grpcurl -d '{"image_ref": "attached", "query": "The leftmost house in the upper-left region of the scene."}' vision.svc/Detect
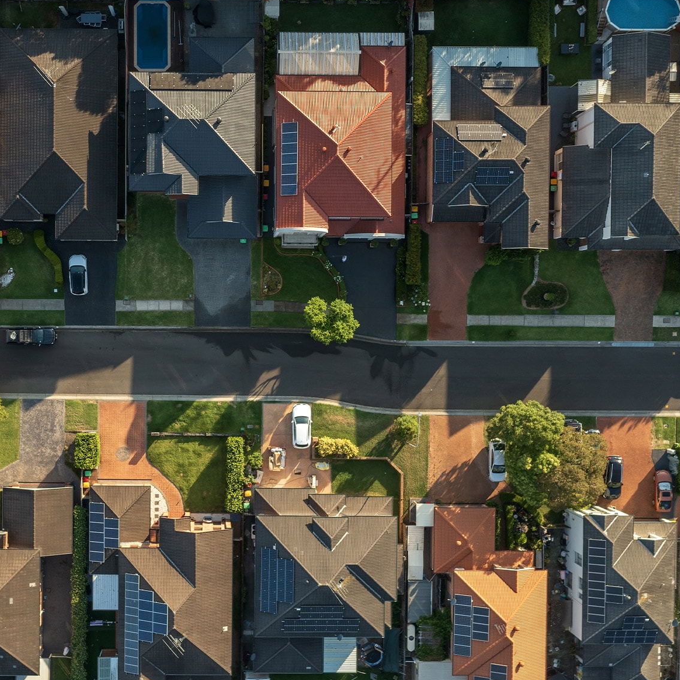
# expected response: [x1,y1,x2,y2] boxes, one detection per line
[0,27,118,242]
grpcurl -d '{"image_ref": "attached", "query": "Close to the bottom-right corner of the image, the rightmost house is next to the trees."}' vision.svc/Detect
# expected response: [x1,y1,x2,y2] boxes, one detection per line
[566,503,680,680]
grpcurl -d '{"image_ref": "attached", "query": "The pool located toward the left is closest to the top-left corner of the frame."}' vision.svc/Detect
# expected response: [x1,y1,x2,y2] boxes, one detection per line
[134,0,171,72]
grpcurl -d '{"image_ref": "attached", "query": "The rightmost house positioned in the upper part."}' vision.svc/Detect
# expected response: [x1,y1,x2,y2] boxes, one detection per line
[557,30,680,251]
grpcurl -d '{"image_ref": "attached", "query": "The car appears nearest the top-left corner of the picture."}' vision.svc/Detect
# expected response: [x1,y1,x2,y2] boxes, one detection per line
[67,254,88,295]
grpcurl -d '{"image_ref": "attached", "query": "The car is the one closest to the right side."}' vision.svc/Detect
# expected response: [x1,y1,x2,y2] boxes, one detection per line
[652,469,673,514]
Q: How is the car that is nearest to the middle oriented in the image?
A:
from top to bottom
